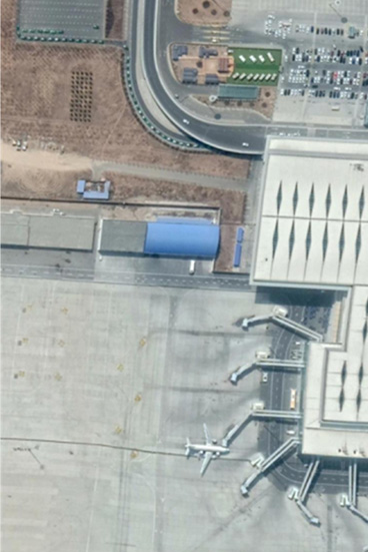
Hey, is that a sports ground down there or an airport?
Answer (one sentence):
What you see here is an airport.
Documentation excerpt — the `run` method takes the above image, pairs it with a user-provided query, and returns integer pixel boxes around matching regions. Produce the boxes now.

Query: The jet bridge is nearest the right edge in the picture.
[338,460,368,521]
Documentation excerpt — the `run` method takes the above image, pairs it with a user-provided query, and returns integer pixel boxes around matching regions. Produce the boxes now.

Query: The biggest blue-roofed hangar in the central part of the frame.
[143,222,220,258]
